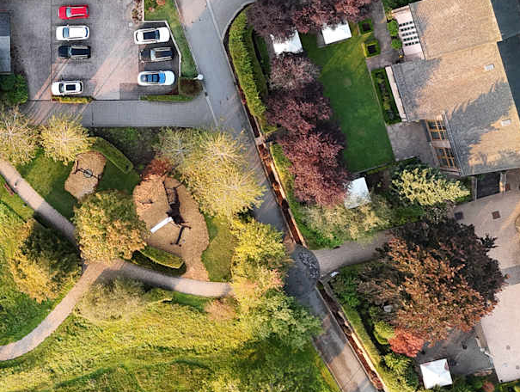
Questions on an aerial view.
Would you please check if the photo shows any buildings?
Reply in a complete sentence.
Yes, you can see a building in this photo.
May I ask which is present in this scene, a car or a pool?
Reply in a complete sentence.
Looking from above, you can make out a car.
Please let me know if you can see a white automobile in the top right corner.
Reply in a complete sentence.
No, no white automobile is visible in the top right corner.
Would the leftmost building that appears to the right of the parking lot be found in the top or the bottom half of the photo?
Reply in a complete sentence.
The leftmost building that appears to the right of the parking lot sits in the top half of the picture.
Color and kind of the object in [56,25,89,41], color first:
white car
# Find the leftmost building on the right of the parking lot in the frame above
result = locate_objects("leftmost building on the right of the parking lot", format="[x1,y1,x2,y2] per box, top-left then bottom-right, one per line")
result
[265,29,303,58]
